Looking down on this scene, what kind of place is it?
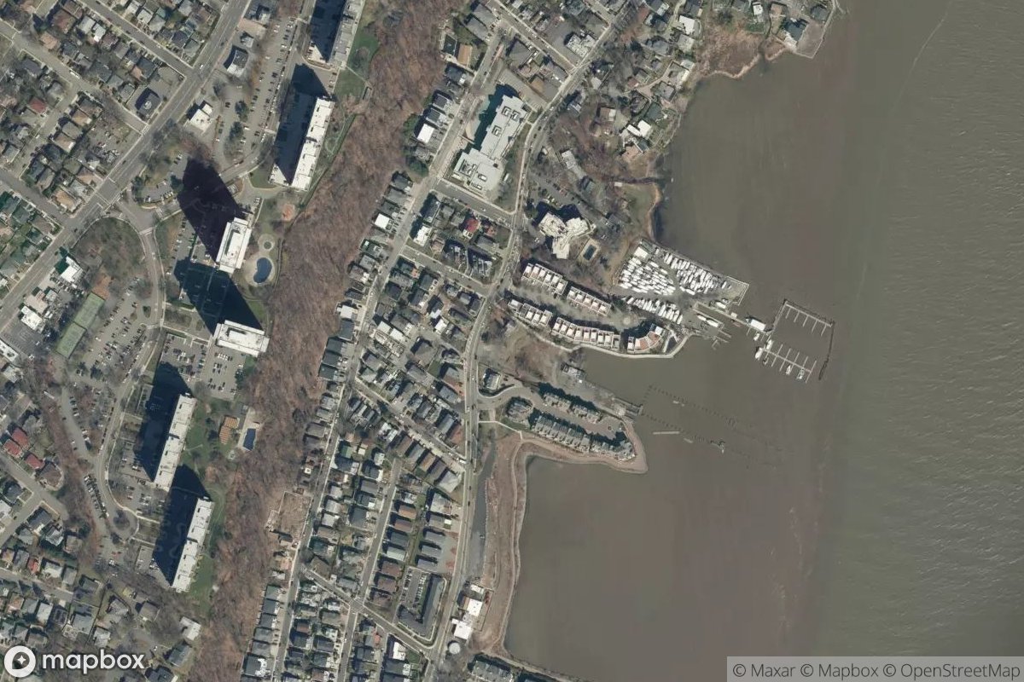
residential area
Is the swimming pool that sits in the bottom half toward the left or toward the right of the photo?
left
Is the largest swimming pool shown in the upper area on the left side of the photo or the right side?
left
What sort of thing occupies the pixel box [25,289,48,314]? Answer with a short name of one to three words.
building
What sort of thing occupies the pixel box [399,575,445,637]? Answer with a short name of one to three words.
building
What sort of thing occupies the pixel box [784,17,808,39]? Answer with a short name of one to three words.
house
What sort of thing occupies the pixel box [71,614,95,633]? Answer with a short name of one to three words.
house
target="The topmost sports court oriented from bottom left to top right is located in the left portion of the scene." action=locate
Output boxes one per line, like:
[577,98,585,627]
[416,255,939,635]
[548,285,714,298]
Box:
[74,293,105,330]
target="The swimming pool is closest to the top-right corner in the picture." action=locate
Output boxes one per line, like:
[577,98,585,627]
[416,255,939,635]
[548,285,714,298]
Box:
[578,240,600,265]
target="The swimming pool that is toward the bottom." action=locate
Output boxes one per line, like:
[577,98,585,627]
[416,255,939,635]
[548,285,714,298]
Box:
[237,408,263,452]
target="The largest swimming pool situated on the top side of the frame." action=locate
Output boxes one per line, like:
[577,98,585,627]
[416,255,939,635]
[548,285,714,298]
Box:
[245,251,275,286]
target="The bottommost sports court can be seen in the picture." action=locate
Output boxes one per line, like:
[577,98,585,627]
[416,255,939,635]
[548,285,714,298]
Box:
[57,323,85,357]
